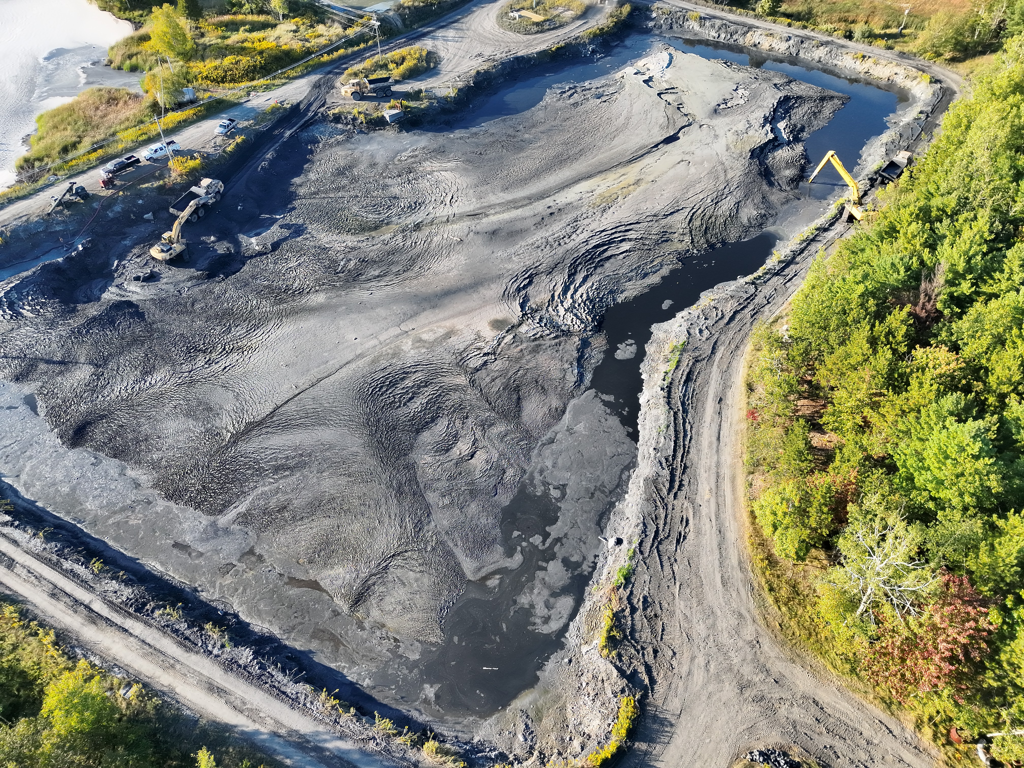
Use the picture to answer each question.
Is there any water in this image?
Yes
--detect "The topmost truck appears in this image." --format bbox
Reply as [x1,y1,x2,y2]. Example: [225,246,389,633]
[342,74,398,102]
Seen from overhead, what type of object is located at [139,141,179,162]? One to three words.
truck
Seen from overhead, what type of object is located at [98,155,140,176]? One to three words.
truck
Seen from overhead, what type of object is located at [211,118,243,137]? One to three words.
vehicle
